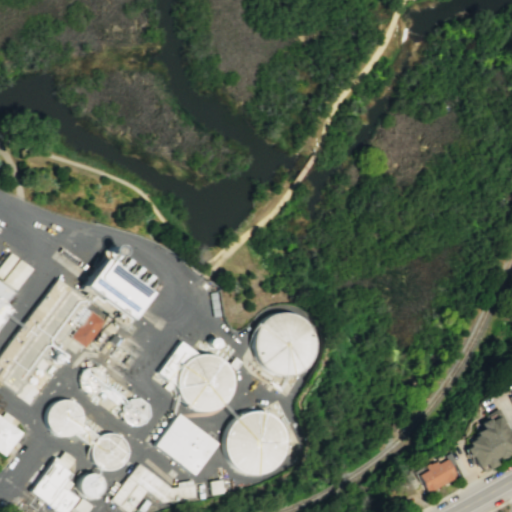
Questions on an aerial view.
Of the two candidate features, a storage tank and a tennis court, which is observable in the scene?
storage tank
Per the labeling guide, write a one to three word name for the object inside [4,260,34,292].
shed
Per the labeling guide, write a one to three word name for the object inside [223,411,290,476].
storage tank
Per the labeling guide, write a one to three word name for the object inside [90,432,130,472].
storage tank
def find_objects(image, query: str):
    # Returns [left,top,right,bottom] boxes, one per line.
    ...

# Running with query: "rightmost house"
[468,414,512,470]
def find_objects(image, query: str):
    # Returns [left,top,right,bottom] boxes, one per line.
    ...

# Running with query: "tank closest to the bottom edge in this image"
[78,472,108,500]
